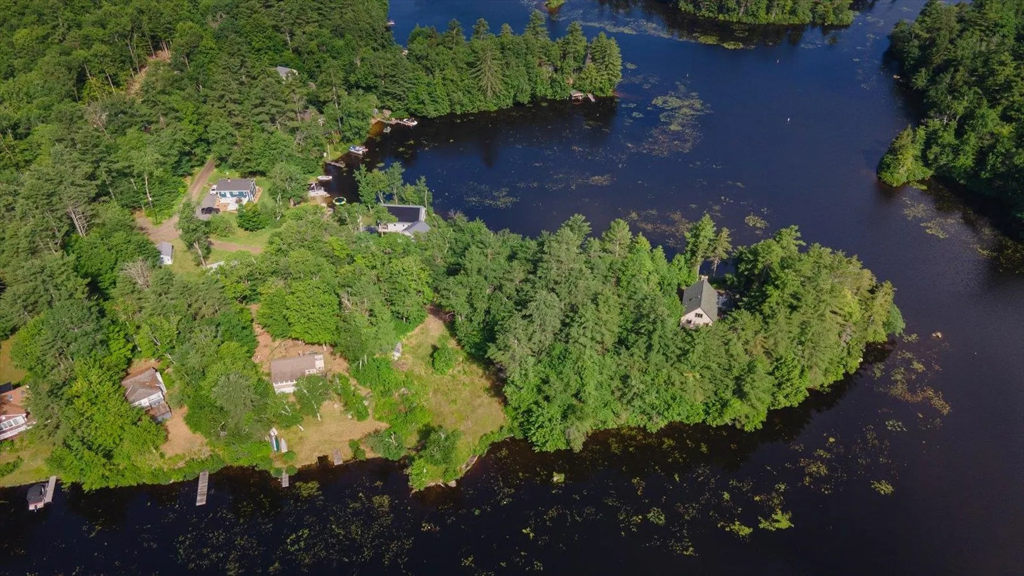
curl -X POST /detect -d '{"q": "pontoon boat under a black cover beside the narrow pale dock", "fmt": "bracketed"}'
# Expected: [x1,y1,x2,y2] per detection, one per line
[24,481,48,510]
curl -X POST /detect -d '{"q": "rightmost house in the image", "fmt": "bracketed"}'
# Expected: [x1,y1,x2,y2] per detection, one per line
[676,275,731,332]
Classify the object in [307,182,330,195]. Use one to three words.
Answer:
boat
